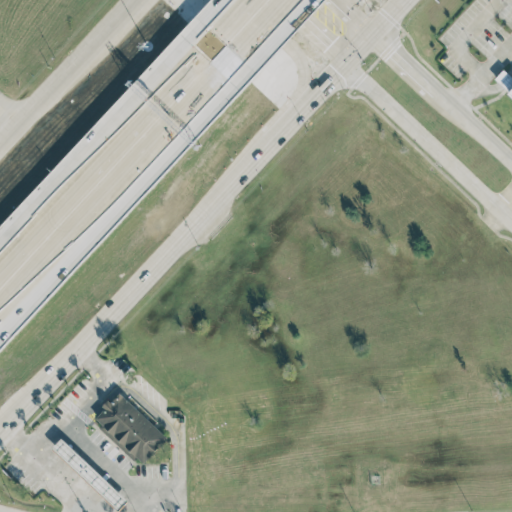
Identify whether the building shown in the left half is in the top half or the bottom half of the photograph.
bottom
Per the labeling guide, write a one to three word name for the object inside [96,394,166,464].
building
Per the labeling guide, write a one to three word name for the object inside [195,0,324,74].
overpass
